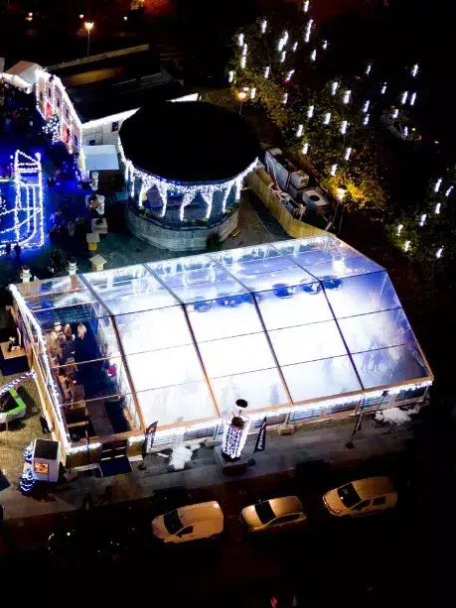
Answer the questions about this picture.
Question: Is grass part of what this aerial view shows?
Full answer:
Yes, grass can be seen from above here.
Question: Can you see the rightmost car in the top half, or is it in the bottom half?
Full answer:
The rightmost car sits in the bottom half of the picture.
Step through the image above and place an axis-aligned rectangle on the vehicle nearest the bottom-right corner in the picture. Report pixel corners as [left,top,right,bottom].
[320,476,406,523]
